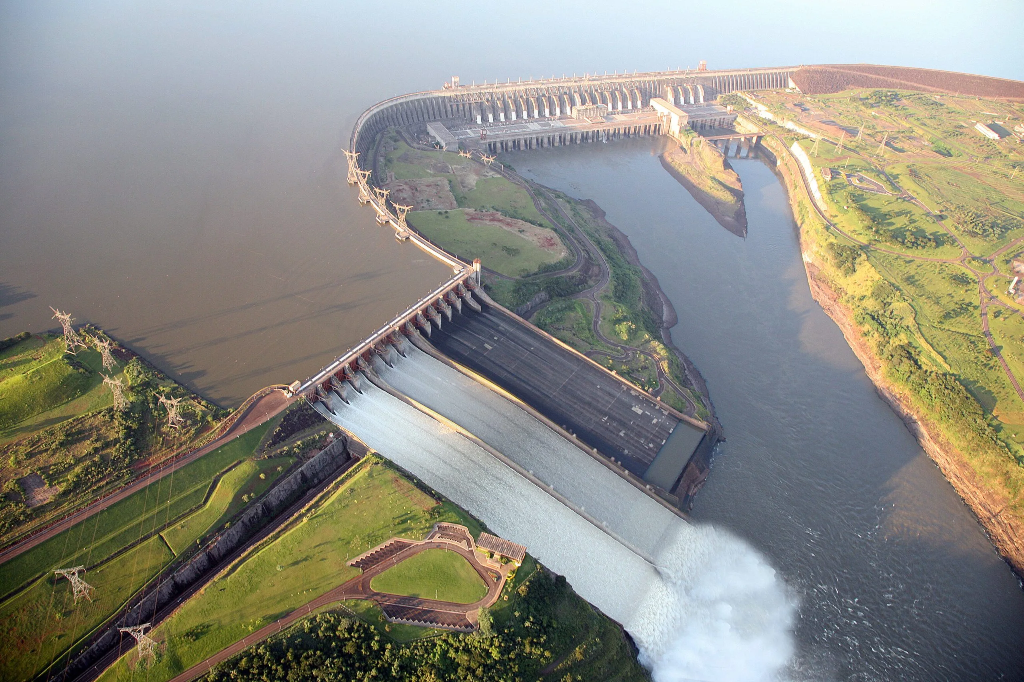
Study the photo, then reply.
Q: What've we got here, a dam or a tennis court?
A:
dam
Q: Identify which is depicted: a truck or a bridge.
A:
bridge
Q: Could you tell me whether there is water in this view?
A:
Yes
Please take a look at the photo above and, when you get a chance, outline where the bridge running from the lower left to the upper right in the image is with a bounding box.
[291,269,473,400]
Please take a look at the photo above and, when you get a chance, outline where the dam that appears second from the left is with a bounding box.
[451,69,708,125]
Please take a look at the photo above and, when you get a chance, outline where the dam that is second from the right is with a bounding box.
[697,63,812,99]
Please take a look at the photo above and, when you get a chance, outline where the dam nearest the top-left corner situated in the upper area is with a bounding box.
[348,87,473,272]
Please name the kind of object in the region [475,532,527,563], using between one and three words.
building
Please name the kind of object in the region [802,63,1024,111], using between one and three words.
dam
